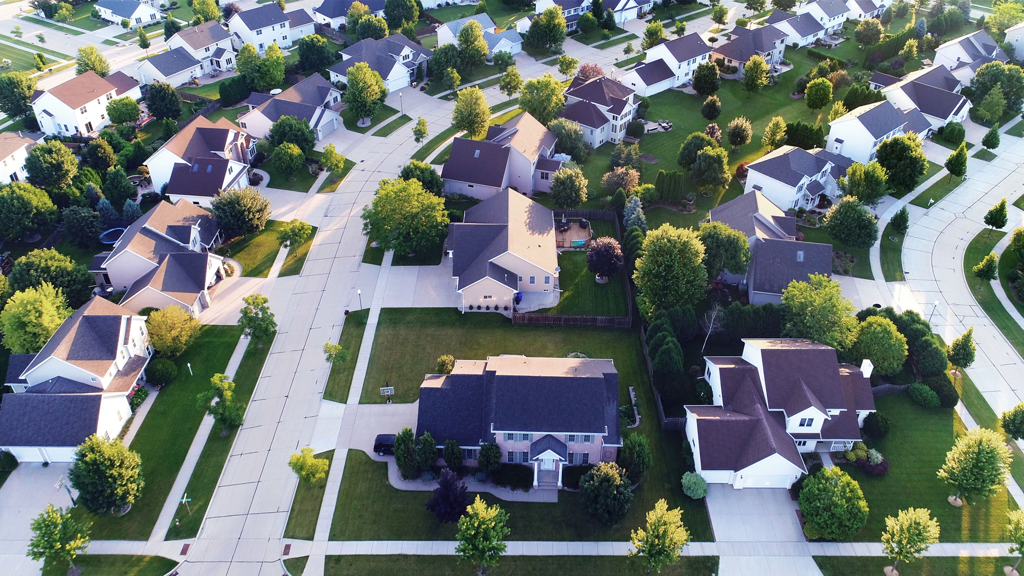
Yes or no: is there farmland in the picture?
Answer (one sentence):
No, farmland can't be seen anywhere here.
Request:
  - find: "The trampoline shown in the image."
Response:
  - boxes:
[97,228,128,247]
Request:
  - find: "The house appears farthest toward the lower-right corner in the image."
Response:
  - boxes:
[684,339,876,491]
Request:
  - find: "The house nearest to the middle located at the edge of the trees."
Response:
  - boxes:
[448,187,560,310]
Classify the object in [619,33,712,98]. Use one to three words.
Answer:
house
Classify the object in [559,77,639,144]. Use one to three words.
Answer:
house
